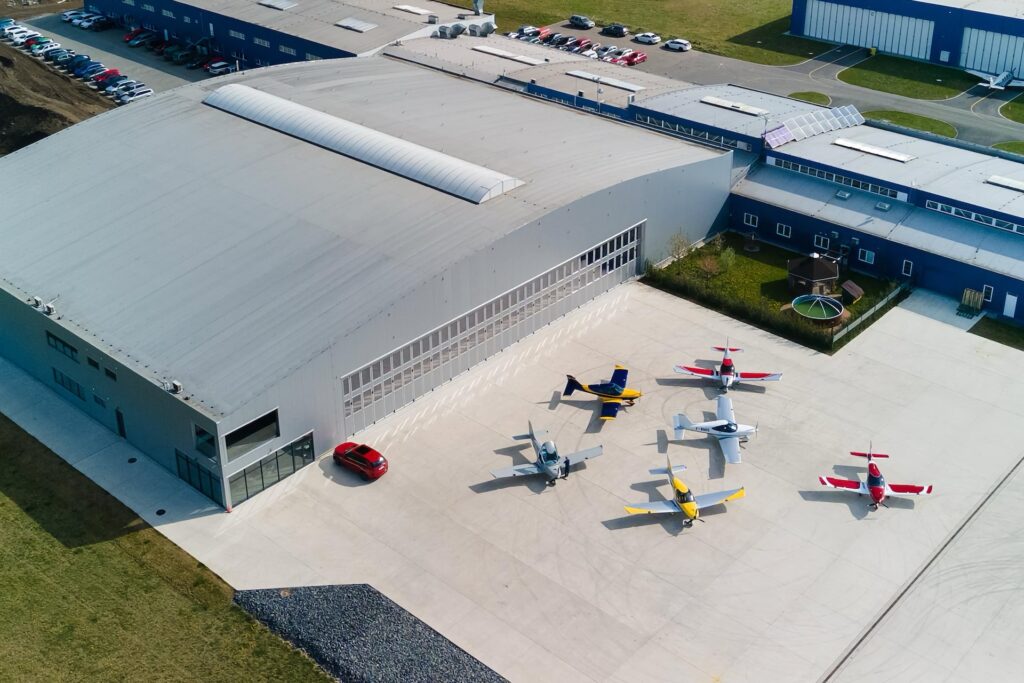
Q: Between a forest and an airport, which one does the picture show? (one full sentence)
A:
What you see here is an airport.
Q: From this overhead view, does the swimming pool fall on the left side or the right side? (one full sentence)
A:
The swimming pool is on the right side of the image.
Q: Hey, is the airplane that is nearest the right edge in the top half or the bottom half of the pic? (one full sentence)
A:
Seen from above, the airplane that is nearest the right edge lies in the top half of the view.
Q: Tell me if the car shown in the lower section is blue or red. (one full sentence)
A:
The color of the car shown in the lower section is red.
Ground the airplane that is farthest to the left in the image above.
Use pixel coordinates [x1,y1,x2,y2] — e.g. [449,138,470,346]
[490,418,603,485]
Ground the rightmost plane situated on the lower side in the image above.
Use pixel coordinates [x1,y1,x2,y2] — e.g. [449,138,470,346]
[818,436,930,508]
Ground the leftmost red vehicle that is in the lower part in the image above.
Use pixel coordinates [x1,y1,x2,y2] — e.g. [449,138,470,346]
[328,446,388,485]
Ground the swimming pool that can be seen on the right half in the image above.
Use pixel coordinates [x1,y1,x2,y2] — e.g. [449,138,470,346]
[794,295,844,328]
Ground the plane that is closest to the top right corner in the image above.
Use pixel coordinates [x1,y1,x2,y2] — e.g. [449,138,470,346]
[969,68,1024,91]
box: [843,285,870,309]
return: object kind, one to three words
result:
shed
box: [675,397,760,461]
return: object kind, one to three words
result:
airplane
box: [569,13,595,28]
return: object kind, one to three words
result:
car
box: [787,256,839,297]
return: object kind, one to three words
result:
gazebo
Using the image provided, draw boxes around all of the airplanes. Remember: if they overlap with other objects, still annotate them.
[818,436,930,508]
[969,68,1024,91]
[675,397,760,461]
[624,451,743,525]
[564,365,644,419]
[675,333,781,395]
[490,418,603,485]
